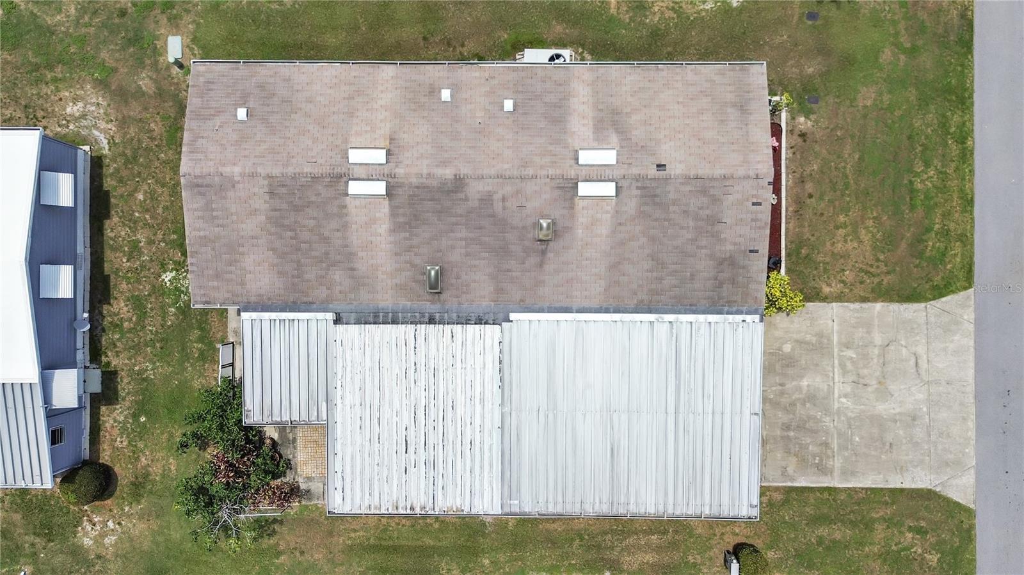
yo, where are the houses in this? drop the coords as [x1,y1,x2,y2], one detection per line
[181,61,774,325]
[0,123,86,489]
